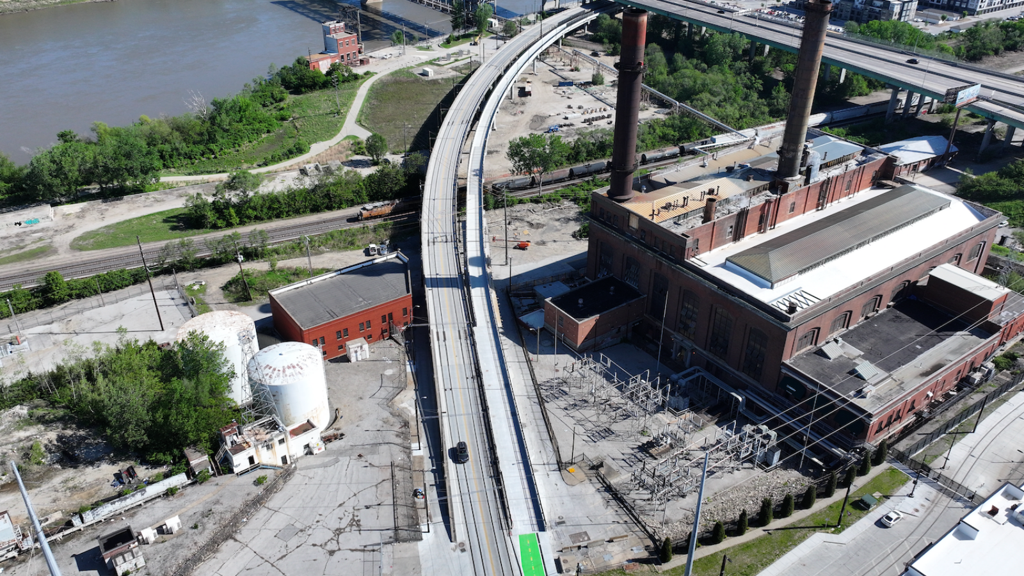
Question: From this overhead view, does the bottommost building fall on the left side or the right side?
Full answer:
You can find the bottommost building on the right side of the picture.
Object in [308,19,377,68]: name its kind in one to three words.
building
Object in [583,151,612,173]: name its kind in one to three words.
rail car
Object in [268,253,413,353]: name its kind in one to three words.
building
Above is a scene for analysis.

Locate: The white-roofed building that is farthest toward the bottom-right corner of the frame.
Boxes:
[899,479,1024,576]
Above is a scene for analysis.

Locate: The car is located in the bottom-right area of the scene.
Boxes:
[879,509,908,531]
